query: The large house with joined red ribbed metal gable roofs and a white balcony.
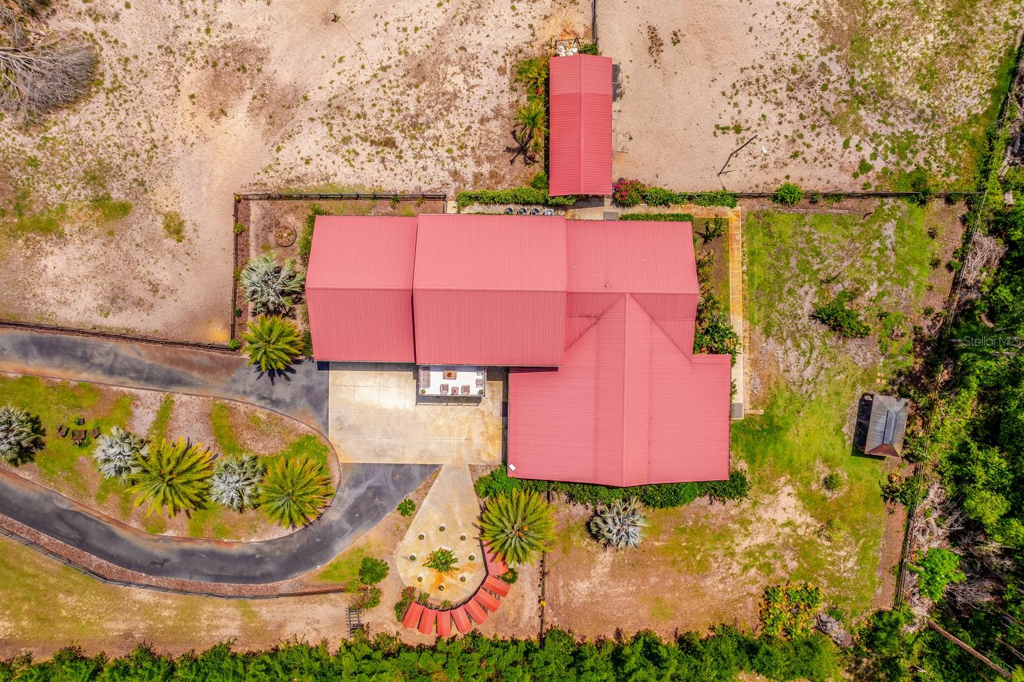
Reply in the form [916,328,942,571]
[305,212,731,489]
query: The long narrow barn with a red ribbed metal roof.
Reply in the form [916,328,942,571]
[549,51,613,198]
